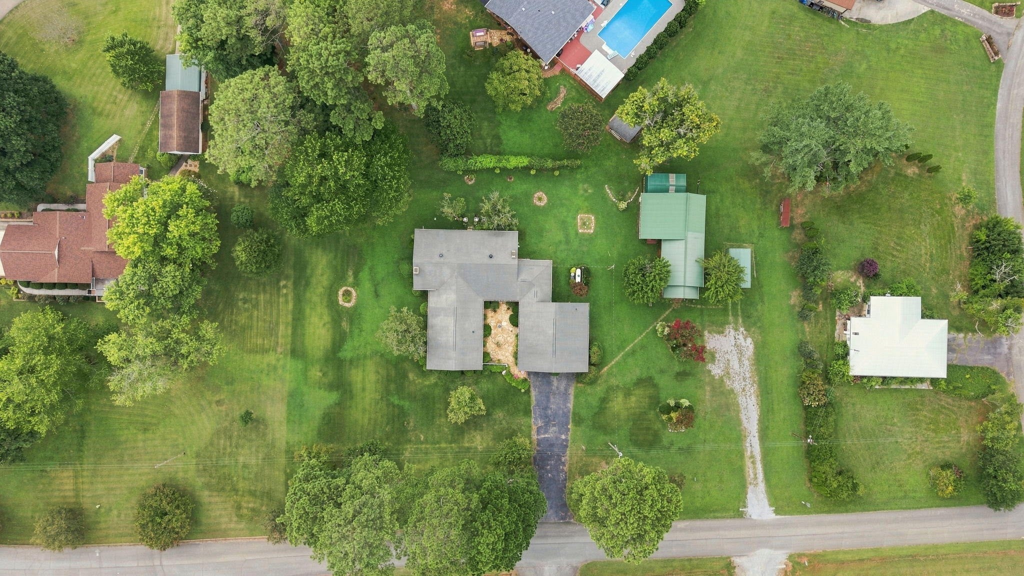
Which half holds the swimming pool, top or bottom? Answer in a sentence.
The swimming pool is in the top half of the image.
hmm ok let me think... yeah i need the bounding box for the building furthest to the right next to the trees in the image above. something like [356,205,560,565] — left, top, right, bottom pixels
[839,296,948,378]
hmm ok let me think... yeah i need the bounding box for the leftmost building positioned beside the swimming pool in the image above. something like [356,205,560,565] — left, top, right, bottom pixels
[479,0,596,66]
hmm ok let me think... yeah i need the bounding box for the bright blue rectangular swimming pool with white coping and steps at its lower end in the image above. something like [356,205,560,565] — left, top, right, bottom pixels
[598,0,676,59]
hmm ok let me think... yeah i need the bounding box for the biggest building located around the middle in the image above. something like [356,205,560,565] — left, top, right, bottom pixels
[412,229,590,373]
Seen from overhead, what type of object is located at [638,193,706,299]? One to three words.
barn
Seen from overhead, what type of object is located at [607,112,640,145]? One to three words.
shed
